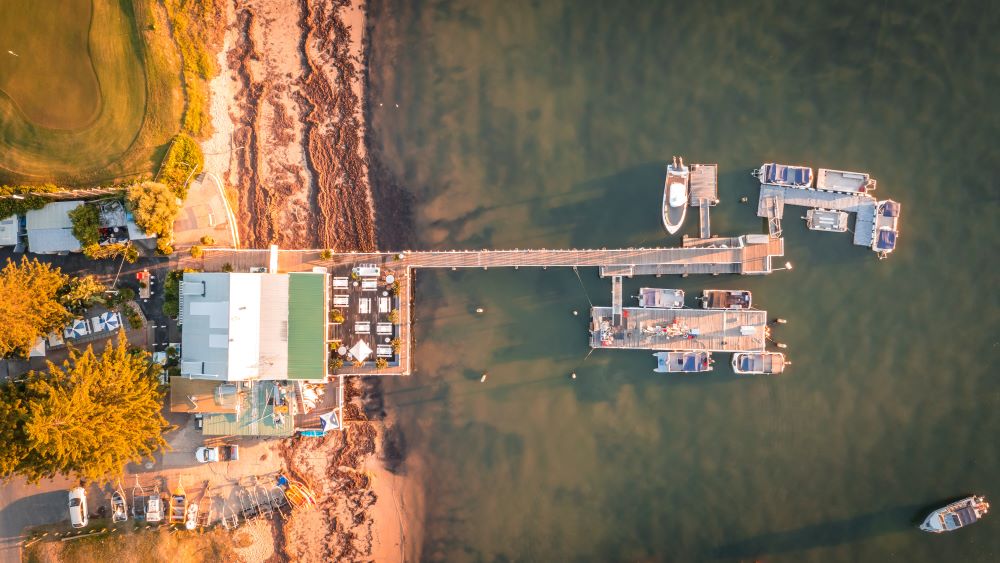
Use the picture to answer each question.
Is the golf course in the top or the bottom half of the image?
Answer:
top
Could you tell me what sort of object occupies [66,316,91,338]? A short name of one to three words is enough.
umbrella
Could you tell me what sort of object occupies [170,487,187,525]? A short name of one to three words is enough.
boat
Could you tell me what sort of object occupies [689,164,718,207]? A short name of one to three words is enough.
pier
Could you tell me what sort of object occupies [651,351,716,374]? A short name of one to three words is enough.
boat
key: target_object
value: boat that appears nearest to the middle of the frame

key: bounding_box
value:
[631,288,685,308]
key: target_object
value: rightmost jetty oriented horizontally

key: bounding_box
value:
[757,183,879,248]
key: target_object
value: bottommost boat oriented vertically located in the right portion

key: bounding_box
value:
[870,202,900,261]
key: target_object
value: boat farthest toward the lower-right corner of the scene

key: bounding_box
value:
[918,490,990,530]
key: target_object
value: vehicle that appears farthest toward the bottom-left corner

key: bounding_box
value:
[67,486,93,528]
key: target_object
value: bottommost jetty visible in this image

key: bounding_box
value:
[590,307,768,352]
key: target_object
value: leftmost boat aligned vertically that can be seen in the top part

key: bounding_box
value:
[664,156,688,234]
